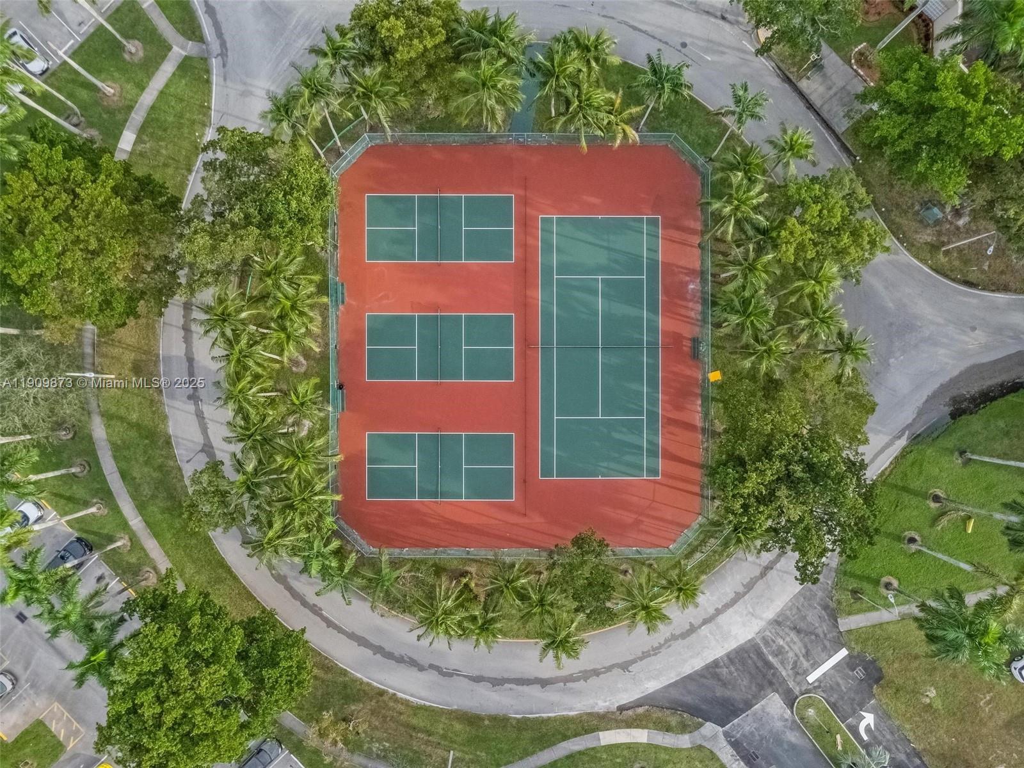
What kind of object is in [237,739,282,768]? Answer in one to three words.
car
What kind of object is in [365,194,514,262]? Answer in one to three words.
sports court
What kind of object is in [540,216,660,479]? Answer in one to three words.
tennis court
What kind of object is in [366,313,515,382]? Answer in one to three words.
sports court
